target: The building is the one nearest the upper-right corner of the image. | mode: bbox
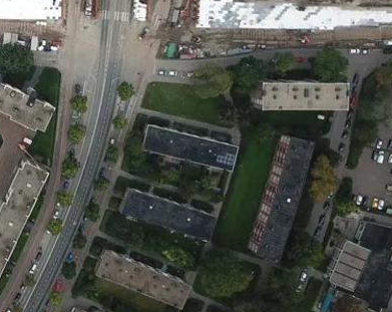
[250,77,349,111]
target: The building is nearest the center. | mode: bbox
[139,120,239,171]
